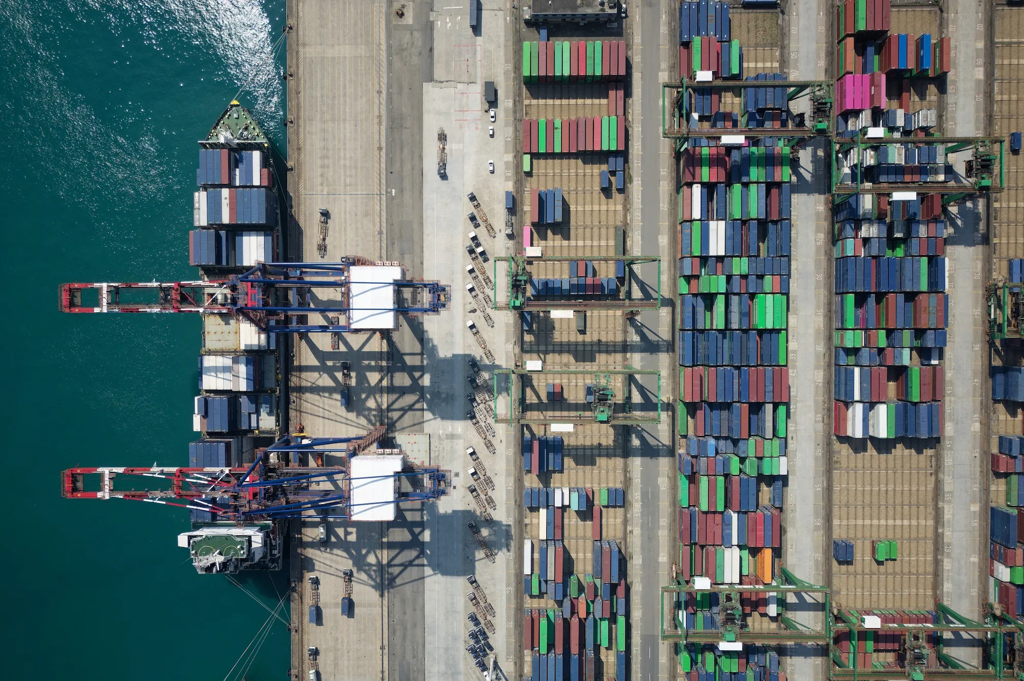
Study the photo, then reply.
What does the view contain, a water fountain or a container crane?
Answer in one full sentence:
This aerial view contains a container crane.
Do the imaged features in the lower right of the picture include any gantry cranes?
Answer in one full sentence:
Yes, looking in the lower right of the picture, one can make out a gantry crane.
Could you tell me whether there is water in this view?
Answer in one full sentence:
Yes, water can be seen from above here.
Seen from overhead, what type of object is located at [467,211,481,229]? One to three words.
work vehicle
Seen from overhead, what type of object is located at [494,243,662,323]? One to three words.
container crane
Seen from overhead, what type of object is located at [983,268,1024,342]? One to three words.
container crane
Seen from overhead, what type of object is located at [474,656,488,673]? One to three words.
work vehicle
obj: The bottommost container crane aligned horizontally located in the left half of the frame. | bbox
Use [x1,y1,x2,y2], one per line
[60,422,454,525]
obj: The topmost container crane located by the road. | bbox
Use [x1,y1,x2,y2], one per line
[663,75,834,161]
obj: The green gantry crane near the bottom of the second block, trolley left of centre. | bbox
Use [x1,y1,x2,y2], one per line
[660,554,828,651]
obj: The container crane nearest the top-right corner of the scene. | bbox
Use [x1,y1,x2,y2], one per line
[827,130,1002,213]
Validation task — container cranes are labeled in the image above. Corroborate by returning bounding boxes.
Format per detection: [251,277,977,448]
[827,130,1002,213]
[983,268,1024,342]
[823,591,995,681]
[663,75,834,161]
[660,554,828,651]
[494,243,662,323]
[60,422,454,525]
[494,349,661,434]
[58,252,454,341]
